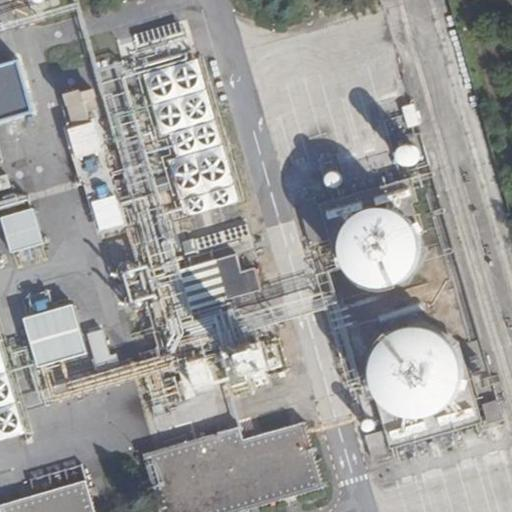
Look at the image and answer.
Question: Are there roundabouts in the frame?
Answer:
No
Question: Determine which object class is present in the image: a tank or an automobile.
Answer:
tank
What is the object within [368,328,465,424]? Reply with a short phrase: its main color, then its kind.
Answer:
white storage tank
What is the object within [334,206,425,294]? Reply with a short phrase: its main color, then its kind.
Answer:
white storage tank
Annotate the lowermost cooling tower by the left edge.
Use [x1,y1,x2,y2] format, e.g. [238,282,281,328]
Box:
[0,405,28,438]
